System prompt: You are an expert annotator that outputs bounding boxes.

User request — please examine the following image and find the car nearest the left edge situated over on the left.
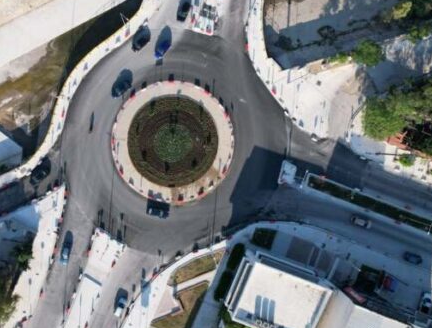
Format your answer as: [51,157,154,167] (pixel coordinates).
[28,166,47,183]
